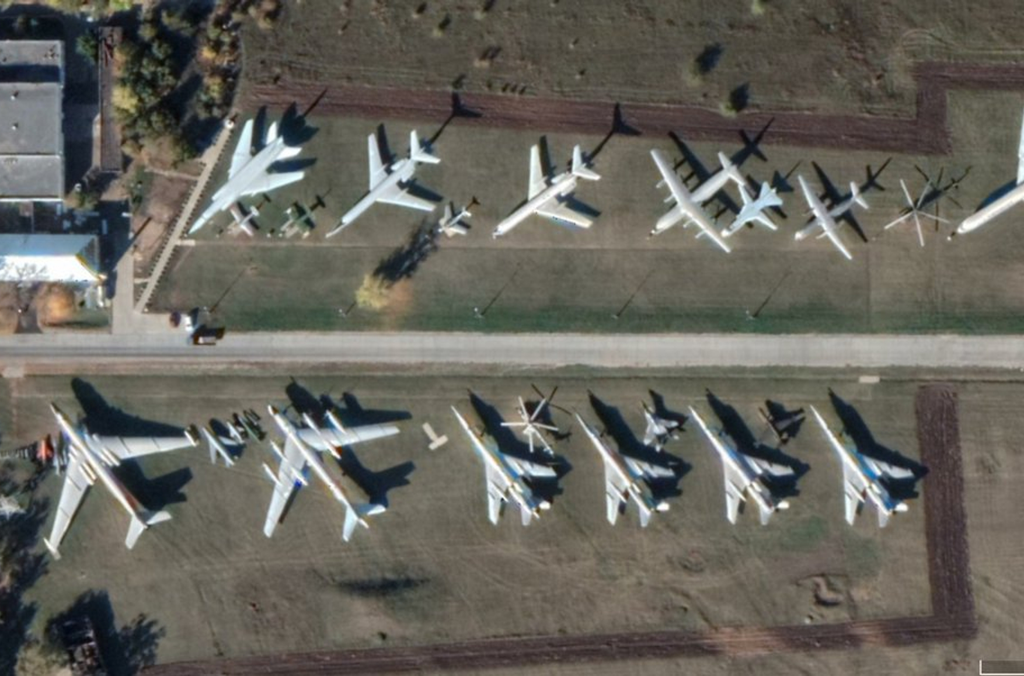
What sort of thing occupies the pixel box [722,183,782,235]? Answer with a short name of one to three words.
airplane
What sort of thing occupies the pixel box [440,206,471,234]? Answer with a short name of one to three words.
airplane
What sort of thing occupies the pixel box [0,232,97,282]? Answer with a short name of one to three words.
house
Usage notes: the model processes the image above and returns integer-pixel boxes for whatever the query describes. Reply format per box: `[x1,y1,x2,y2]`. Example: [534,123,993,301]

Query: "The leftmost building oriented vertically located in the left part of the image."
[0,39,65,200]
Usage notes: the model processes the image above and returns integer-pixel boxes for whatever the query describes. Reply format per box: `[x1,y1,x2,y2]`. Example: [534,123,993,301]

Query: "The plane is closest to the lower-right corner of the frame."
[810,405,915,527]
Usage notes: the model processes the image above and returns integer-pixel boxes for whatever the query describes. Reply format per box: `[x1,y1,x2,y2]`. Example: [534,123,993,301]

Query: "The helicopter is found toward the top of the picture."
[885,172,963,246]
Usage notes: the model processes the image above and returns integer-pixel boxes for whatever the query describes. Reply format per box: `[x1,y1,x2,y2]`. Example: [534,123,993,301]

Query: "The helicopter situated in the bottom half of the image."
[501,397,559,460]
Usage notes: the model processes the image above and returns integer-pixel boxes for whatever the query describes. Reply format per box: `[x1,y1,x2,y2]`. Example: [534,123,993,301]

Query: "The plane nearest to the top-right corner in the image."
[957,121,1024,232]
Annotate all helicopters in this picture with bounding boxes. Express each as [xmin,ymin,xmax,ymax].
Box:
[885,172,963,246]
[501,397,559,460]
